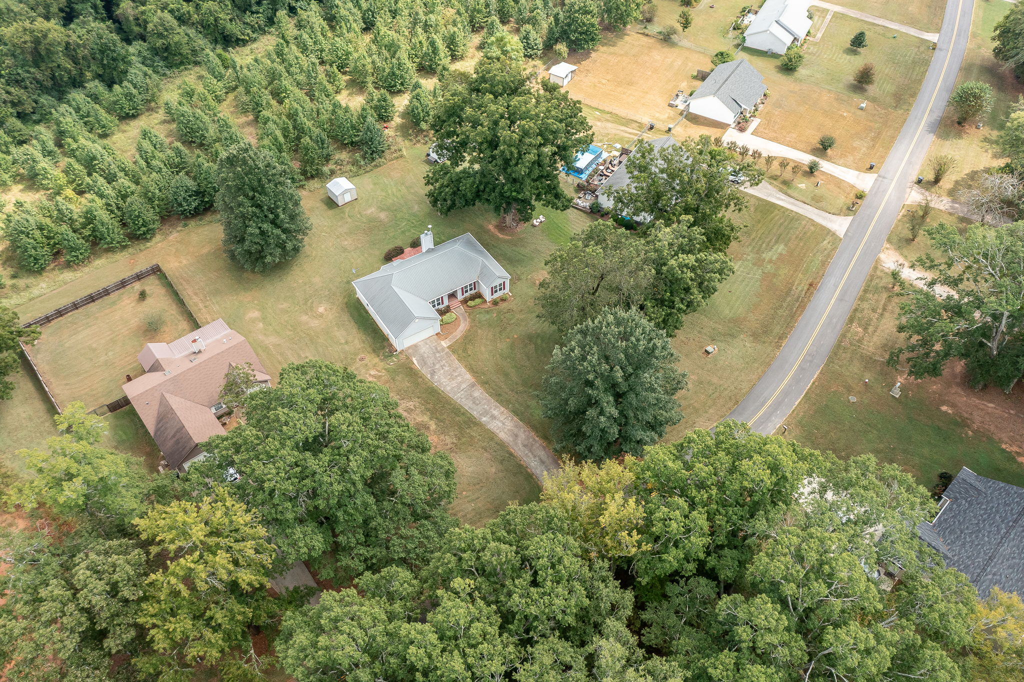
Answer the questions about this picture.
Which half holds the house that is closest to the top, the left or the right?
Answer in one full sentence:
It is on the right.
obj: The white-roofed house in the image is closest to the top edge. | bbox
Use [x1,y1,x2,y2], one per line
[743,0,814,52]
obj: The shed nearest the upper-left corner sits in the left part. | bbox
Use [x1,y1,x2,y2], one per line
[328,180,358,206]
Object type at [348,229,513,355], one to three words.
house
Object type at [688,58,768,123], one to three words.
house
